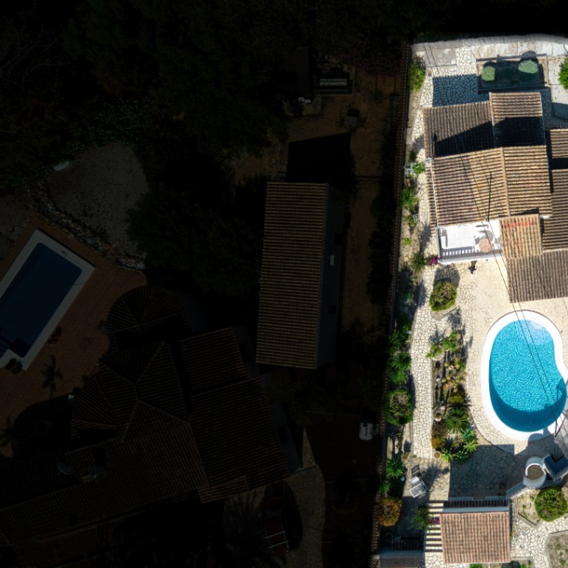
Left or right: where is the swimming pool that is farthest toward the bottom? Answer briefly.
right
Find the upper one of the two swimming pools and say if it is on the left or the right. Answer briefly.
left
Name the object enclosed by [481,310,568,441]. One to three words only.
swimming pool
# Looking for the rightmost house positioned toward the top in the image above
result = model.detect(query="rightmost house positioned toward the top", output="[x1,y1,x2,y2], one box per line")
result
[423,92,568,302]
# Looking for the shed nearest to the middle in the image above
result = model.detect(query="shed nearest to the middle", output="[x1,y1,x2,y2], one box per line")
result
[255,183,342,369]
